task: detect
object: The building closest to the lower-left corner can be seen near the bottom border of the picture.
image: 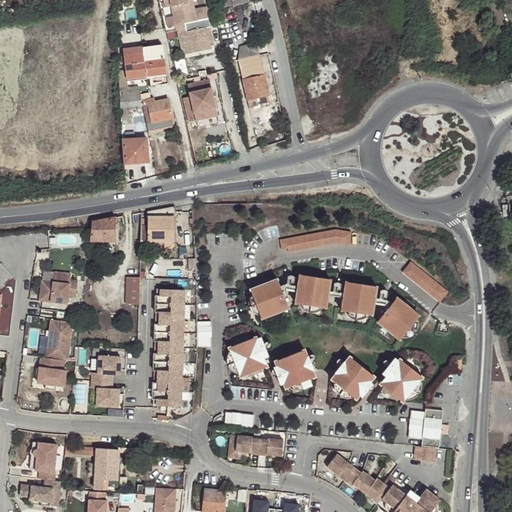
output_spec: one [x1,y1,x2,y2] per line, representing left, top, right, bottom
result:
[19,482,60,512]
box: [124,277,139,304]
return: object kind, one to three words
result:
shed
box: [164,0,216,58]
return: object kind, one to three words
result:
house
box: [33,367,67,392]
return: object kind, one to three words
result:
house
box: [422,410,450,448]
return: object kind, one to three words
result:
building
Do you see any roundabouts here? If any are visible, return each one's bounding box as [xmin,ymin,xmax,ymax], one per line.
[357,80,500,222]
